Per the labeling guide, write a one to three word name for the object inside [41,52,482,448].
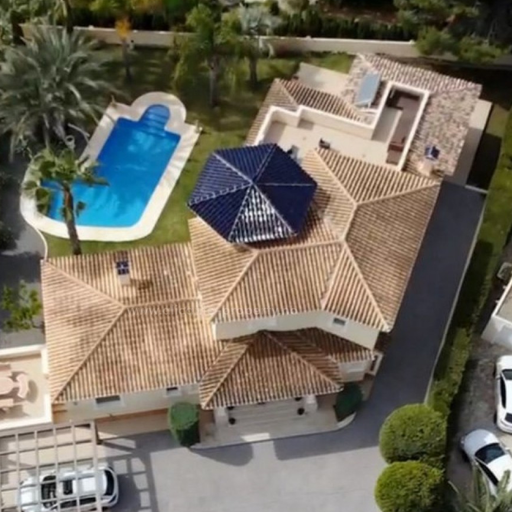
house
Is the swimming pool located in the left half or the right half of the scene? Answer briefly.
left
